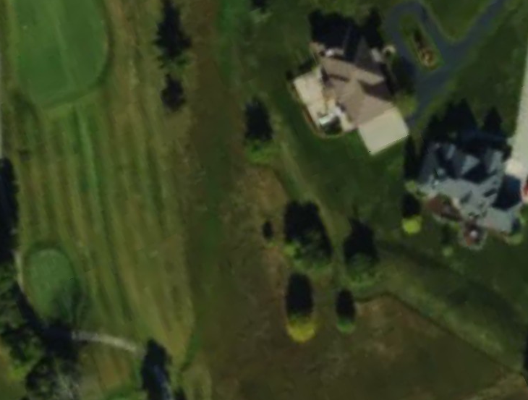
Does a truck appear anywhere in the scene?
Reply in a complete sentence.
No, I can see no truck in this picture.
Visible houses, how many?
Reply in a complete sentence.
Altogether the scene contains 2 houses.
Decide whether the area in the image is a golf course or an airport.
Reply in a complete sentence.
It's a golf course.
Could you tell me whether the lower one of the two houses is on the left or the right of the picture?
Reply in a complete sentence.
The lower one of the two houses appears in the right half of the scene.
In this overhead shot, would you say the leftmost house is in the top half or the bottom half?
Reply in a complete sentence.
It is in the top half that the leftmost house appears.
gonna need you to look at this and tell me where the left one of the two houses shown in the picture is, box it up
[312,31,396,128]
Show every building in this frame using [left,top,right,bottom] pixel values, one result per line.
[312,31,396,128]
[417,139,526,226]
